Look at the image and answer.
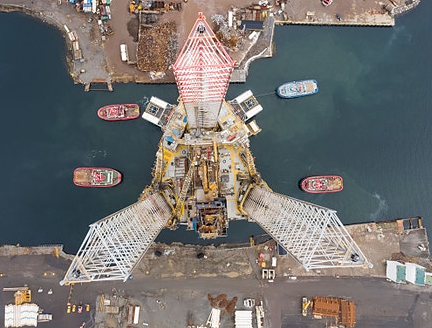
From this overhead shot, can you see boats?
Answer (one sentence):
Yes, there's a boat down there.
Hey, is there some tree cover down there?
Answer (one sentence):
No, the picture contains no tree cover.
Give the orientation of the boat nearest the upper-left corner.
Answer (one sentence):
I'd say the boat nearest the upper-left corner is aligned from side to side in the picture.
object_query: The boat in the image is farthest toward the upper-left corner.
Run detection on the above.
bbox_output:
[96,101,140,120]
